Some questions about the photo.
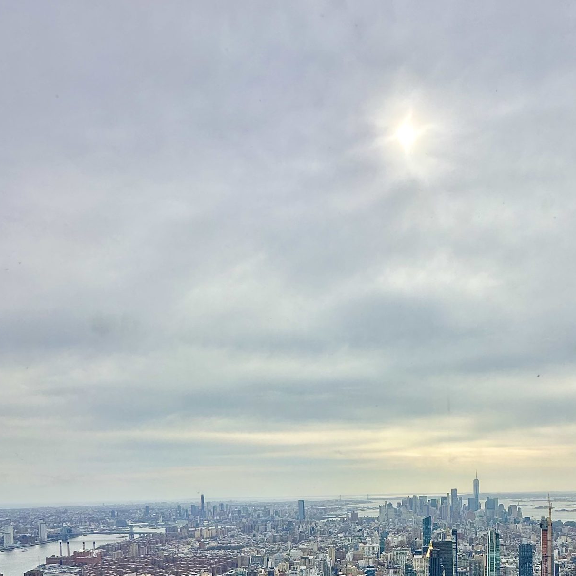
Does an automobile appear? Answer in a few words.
No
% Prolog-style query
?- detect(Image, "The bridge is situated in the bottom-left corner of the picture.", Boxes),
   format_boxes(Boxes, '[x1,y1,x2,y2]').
[0,525,190,541]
